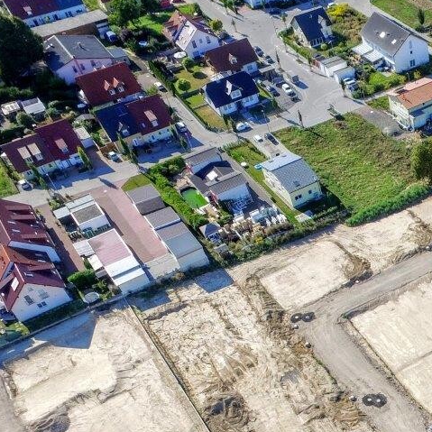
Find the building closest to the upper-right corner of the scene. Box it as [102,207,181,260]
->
[361,12,427,72]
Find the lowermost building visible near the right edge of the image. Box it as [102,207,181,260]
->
[387,78,432,130]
